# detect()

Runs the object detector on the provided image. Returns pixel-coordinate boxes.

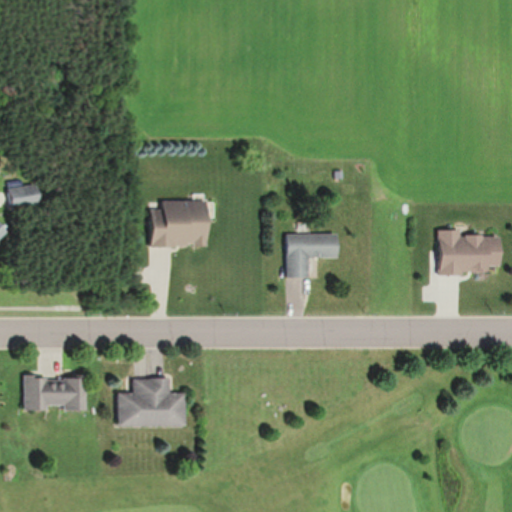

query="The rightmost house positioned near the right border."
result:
[436,230,504,276]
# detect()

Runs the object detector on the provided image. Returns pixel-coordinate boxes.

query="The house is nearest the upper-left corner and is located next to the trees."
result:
[5,180,42,206]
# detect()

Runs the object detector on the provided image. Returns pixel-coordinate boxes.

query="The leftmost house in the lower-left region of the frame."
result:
[22,375,88,412]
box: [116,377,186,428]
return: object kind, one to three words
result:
house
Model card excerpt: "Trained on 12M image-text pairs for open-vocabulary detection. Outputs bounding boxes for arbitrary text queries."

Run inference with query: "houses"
[0,216,10,242]
[148,200,211,248]
[436,230,504,276]
[116,377,186,428]
[284,234,341,278]
[22,375,88,412]
[5,180,42,206]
